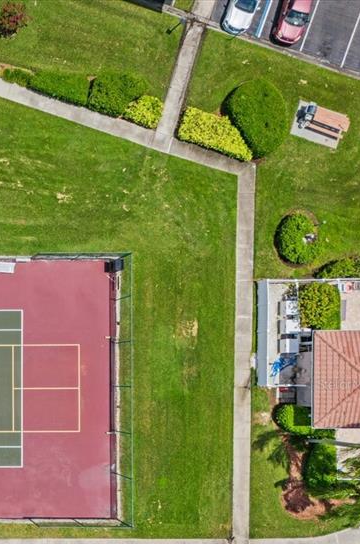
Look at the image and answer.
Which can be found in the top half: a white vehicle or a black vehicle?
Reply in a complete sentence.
The feature located in the top half is a white vehicle.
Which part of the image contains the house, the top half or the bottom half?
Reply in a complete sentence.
It is in the bottom half that the house appears.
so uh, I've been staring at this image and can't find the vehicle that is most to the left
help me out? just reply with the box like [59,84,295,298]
[220,0,259,35]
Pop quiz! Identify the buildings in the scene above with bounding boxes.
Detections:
[298,329,360,431]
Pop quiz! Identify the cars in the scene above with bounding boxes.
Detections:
[220,0,259,35]
[273,0,317,48]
